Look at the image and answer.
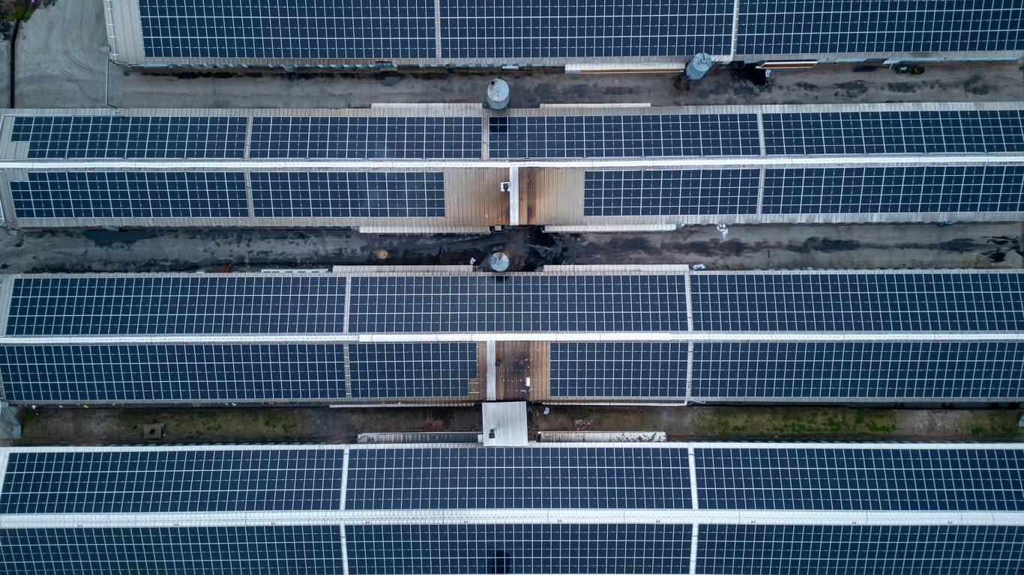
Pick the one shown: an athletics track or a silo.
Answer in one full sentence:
The one in the frame is a silo.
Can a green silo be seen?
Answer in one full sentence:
No, the scene contains no green silo.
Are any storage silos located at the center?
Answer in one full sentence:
Yes, a storage silo is visible at the center.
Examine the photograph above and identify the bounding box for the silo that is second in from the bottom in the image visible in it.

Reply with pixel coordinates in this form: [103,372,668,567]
[485,79,510,112]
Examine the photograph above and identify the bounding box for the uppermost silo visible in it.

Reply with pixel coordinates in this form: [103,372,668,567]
[677,51,712,91]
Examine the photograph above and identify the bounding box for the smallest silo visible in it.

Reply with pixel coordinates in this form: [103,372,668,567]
[489,252,510,272]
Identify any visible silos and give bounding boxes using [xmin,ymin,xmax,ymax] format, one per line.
[485,79,510,112]
[677,51,712,91]
[489,252,510,272]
